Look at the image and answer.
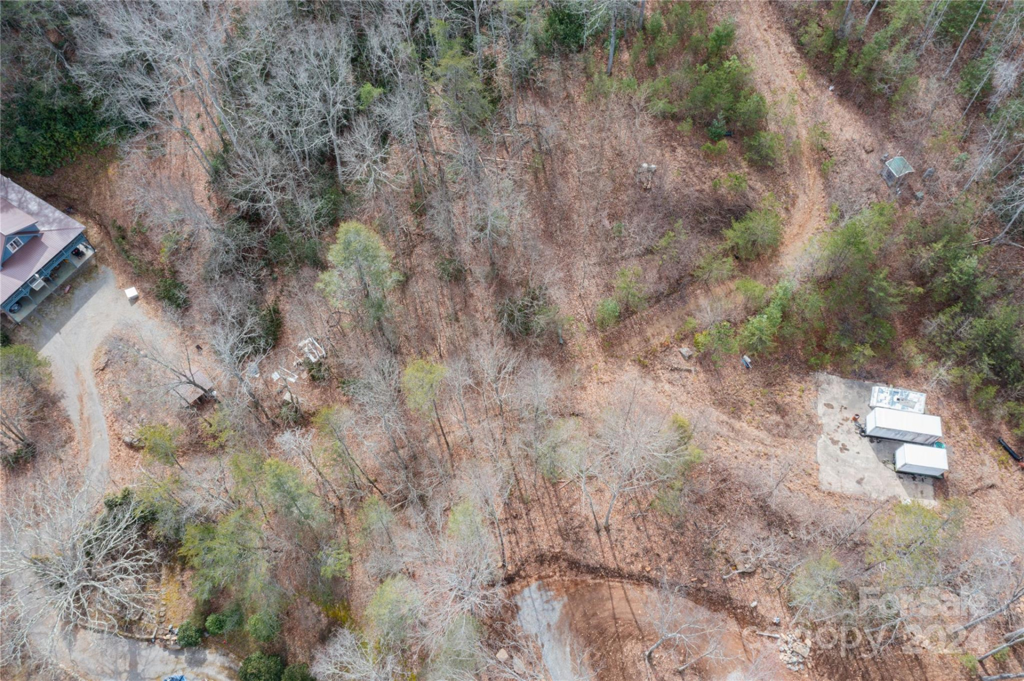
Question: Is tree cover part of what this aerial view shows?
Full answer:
Yes, tree cover can be seen from above here.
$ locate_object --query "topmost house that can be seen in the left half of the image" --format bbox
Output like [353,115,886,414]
[0,184,101,331]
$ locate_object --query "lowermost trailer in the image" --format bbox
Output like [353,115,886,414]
[881,444,949,478]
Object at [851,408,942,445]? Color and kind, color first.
white trailer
